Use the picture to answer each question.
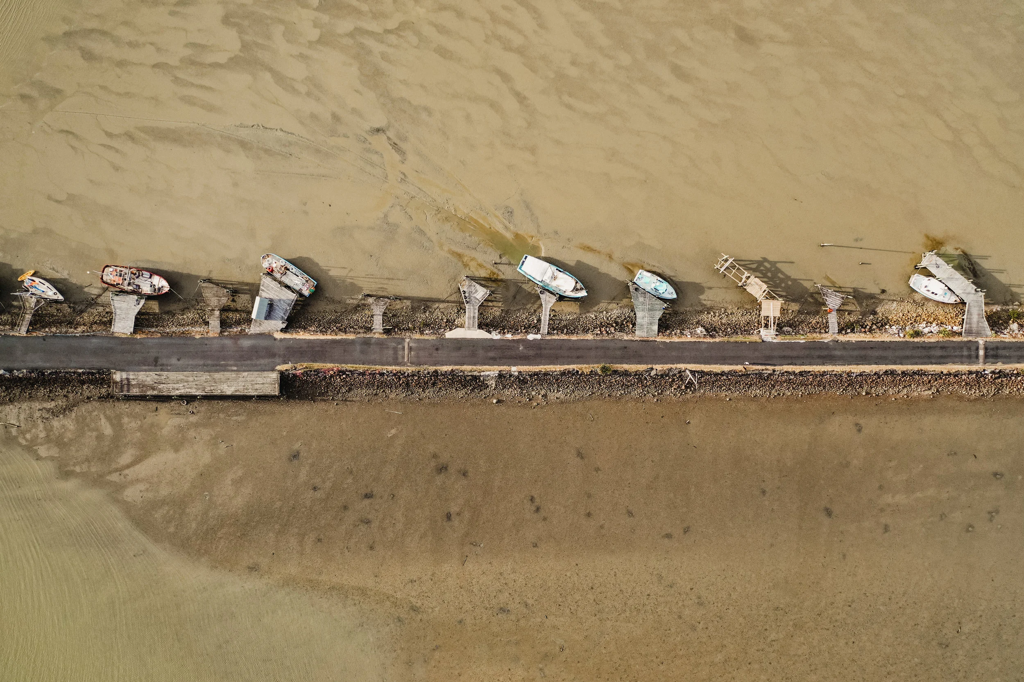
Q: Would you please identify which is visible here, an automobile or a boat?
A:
boat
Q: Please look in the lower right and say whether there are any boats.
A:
No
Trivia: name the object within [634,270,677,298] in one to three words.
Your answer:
boat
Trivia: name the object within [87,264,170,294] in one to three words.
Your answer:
boat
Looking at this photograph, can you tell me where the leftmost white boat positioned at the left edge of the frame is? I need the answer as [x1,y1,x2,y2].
[9,278,65,301]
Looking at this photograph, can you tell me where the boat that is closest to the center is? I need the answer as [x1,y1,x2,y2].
[516,253,588,299]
